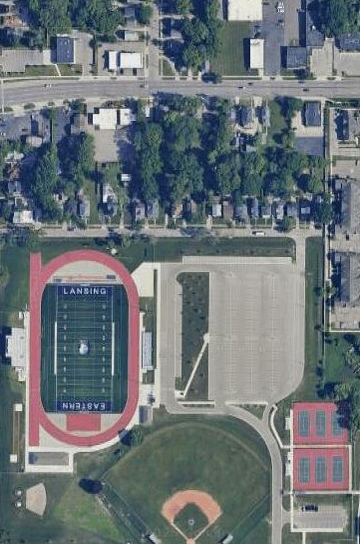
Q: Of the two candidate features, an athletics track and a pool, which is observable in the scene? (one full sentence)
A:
Visible in the photo is an athletics track.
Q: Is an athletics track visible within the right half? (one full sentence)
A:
No, there is no athletics track within the right half.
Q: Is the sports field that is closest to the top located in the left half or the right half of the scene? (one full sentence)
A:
The sports field that is closest to the top appears in the left half of the scene.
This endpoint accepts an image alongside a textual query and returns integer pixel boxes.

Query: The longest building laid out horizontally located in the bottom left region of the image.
[33,452,68,465]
